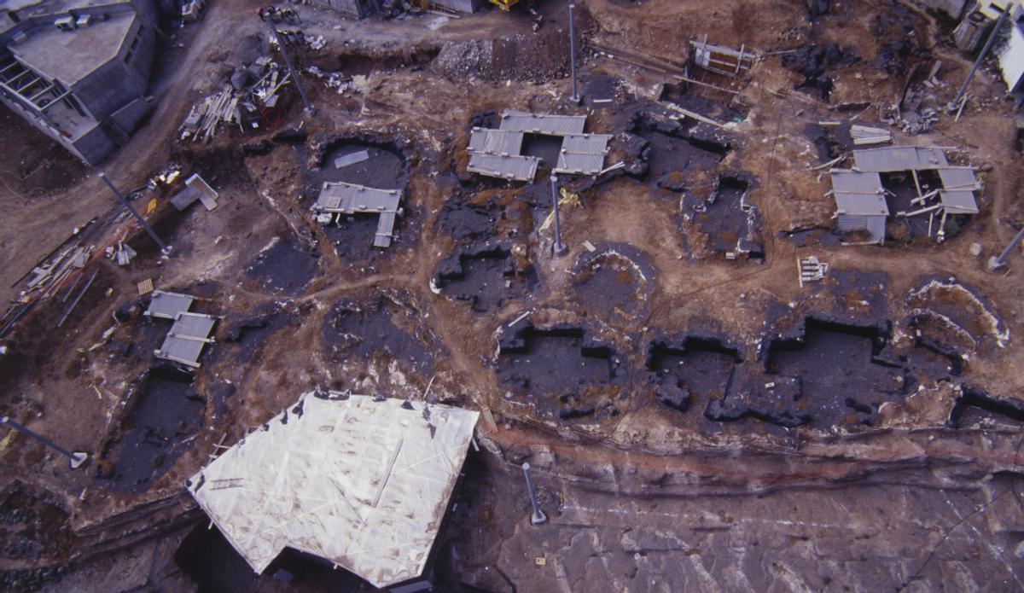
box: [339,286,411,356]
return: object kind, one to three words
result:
house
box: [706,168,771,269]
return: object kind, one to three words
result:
house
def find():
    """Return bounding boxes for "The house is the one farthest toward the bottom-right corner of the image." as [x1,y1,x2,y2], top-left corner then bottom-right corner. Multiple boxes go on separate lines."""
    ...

[940,377,1024,427]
